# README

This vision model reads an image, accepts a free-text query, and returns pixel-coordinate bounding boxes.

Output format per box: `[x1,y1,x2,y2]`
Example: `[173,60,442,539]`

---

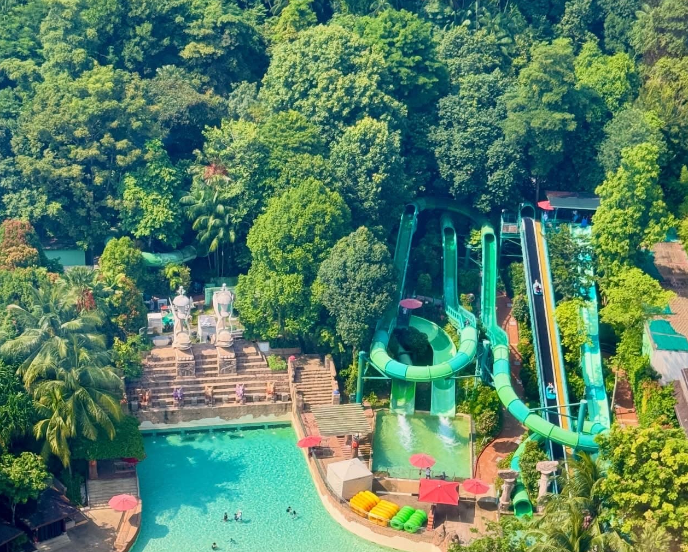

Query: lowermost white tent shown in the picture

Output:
[329,458,373,501]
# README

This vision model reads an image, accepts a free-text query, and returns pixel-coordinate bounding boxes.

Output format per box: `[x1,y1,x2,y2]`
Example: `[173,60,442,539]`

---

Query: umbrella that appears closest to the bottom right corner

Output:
[463,479,489,507]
